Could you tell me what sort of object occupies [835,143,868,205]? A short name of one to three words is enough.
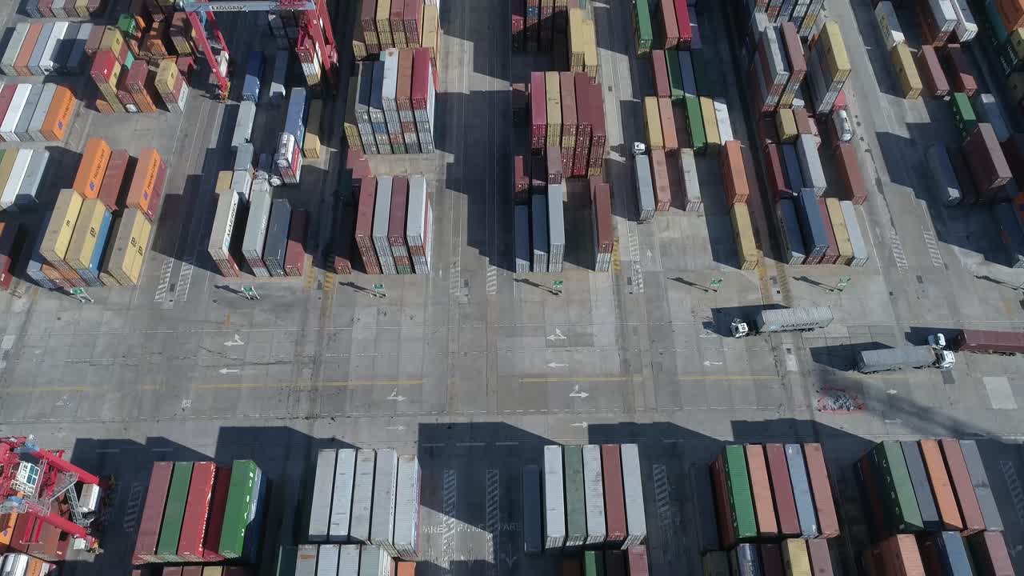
shipping container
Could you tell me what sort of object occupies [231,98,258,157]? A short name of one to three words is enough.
shipping container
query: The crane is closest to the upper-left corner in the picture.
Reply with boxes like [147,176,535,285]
[170,0,342,104]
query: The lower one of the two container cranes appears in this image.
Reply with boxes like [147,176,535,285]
[0,435,108,558]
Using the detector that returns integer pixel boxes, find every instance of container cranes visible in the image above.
[170,0,342,104]
[0,435,108,558]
